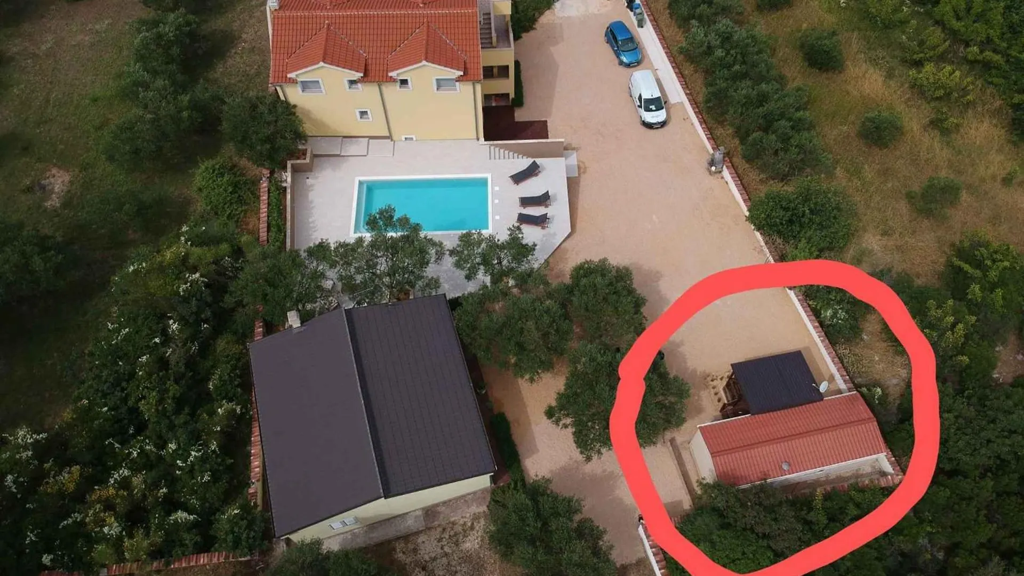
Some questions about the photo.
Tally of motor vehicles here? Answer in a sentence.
The photo contains 2 motor vehicles.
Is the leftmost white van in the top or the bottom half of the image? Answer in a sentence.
The leftmost white van sits in the top half of the picture.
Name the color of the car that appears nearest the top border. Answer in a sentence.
The color of the car that appears nearest the top border is blue.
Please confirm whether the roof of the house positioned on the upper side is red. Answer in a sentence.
Yes, red is the color of the roof of the house positioned on the upper side.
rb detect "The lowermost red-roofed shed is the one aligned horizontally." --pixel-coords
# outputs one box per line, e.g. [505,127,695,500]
[689,392,883,498]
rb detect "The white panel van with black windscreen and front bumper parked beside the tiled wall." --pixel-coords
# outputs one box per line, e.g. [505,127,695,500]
[628,63,669,127]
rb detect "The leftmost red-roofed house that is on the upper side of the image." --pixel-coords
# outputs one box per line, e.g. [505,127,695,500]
[270,0,516,142]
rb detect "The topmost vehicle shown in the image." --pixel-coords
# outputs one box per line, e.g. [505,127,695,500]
[603,18,643,66]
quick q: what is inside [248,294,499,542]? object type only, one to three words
house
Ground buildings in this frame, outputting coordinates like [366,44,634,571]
[689,392,883,498]
[270,0,516,142]
[248,294,499,542]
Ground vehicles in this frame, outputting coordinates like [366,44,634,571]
[628,63,669,127]
[603,18,643,66]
